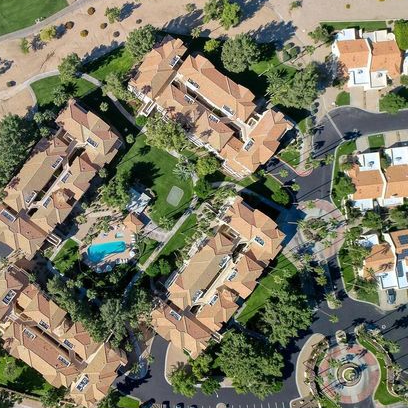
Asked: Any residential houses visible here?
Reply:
Yes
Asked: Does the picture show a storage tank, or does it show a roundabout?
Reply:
roundabout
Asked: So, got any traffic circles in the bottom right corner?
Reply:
Yes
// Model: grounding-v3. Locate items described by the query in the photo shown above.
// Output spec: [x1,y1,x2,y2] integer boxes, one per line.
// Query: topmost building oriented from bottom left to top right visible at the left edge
[0,96,122,262]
